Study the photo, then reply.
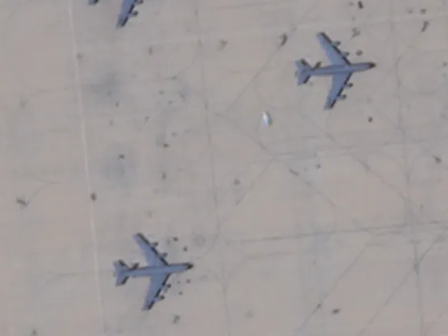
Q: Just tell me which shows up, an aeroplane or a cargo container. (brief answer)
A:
aeroplane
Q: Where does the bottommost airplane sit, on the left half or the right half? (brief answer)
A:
left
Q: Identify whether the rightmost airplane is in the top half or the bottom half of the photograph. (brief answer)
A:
top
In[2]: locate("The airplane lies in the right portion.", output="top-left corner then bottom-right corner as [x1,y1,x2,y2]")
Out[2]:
[297,33,373,109]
